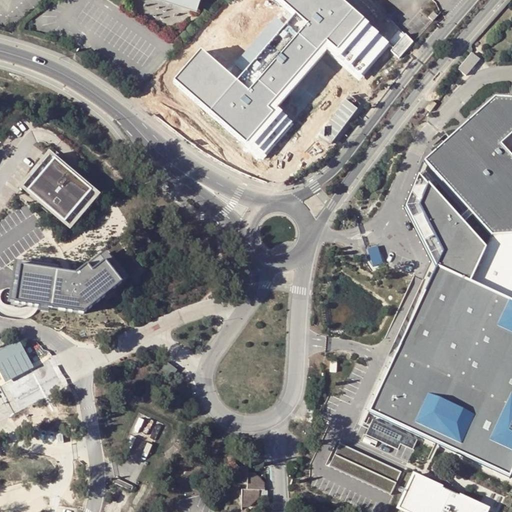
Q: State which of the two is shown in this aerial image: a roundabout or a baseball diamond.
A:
roundabout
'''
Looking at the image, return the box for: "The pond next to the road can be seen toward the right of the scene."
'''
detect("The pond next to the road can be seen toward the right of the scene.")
[326,271,384,334]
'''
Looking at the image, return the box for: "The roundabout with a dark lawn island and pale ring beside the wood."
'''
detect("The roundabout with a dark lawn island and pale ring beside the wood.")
[240,194,317,272]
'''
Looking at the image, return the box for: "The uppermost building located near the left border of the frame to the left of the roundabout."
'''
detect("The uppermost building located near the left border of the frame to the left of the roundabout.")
[22,150,100,229]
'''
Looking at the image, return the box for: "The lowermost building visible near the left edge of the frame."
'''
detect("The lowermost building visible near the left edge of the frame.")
[0,342,34,382]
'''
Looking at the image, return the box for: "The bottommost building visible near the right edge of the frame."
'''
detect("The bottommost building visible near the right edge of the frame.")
[394,472,490,512]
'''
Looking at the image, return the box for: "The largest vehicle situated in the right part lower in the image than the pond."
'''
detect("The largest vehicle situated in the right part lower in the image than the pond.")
[362,436,380,448]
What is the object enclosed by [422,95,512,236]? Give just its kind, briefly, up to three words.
building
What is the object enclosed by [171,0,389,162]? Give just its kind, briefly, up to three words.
building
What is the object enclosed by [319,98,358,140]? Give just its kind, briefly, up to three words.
shed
